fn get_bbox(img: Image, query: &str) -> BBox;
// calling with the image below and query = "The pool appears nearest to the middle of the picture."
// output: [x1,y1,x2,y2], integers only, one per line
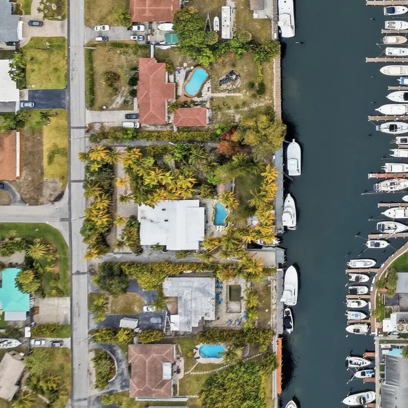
[213,202,228,227]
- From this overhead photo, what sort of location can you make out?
residential area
